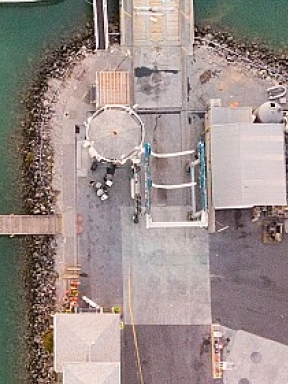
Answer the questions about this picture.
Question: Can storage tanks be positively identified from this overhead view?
Yes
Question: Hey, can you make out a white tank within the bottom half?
No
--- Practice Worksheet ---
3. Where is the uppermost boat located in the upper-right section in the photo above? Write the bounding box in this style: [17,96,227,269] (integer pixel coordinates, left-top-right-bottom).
[268,86,286,98]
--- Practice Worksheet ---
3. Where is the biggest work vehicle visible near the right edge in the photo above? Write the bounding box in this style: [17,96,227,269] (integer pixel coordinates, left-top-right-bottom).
[259,219,284,244]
